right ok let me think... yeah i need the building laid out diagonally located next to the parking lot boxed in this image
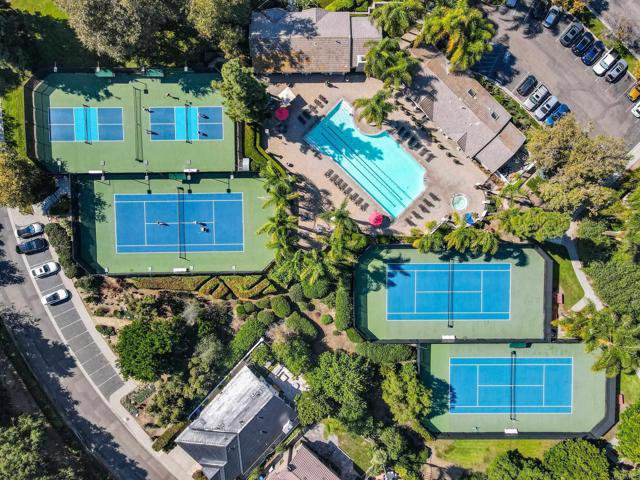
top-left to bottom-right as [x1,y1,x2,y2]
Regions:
[397,49,526,173]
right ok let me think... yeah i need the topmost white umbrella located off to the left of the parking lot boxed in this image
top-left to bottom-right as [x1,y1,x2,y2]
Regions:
[276,85,298,107]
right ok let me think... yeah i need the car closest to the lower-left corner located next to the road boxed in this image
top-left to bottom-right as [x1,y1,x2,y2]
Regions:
[42,289,70,304]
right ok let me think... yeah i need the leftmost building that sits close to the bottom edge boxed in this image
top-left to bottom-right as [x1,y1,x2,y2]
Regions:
[176,366,298,480]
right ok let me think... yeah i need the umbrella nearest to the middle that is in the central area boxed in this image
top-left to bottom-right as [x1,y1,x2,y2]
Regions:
[369,212,383,226]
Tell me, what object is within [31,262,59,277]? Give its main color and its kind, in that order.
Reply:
white car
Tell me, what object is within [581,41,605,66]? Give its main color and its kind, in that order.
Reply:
blue car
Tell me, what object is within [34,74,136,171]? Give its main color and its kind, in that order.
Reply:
green sports court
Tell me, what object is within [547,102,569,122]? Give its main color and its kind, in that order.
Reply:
blue car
